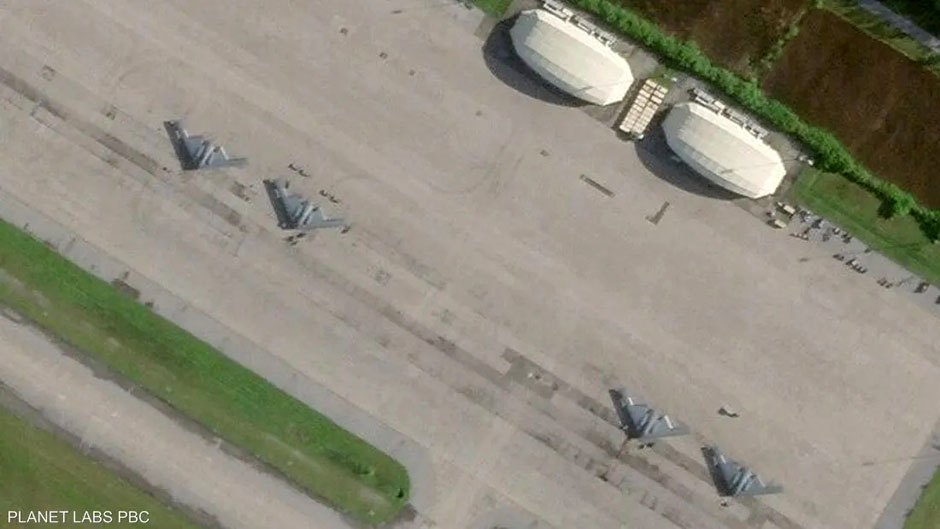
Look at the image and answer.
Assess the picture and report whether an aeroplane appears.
Yes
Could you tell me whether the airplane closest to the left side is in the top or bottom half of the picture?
top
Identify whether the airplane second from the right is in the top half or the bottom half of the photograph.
bottom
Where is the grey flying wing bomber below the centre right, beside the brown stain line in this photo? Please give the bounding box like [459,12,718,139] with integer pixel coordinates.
[619,391,691,438]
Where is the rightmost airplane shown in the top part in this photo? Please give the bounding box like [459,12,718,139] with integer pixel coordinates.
[271,182,344,229]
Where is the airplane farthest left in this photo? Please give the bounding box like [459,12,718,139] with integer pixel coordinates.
[173,121,247,168]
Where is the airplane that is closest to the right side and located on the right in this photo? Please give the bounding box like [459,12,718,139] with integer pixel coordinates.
[711,449,783,496]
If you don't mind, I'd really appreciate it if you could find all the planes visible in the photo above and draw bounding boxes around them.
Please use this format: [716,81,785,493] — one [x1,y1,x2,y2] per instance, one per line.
[271,182,344,229]
[711,449,783,496]
[173,121,247,168]
[619,391,691,438]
